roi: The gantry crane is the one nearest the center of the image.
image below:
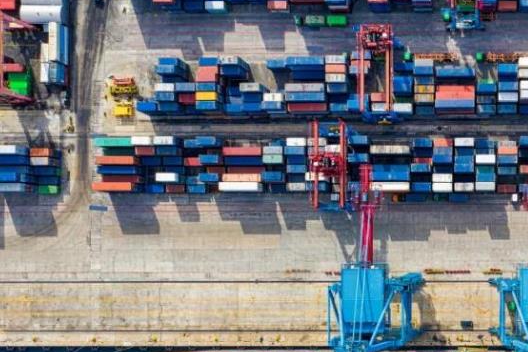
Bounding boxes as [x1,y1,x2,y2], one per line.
[308,117,362,211]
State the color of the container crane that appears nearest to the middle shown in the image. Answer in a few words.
red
